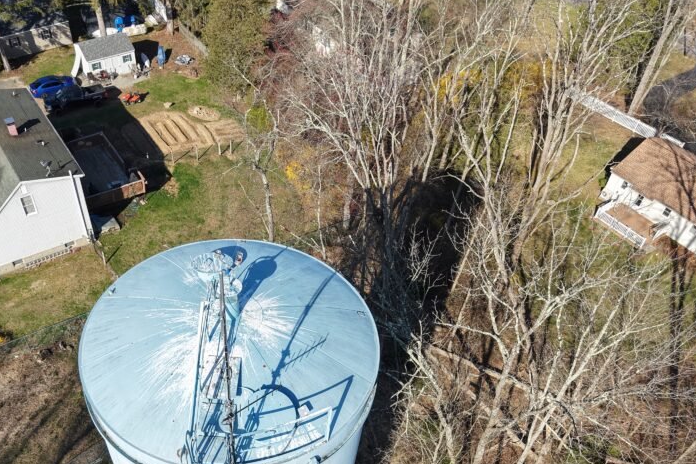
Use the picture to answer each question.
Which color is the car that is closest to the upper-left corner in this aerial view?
blue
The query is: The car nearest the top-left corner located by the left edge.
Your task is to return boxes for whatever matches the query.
[28,74,77,99]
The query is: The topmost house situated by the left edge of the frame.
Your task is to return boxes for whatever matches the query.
[0,0,74,56]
